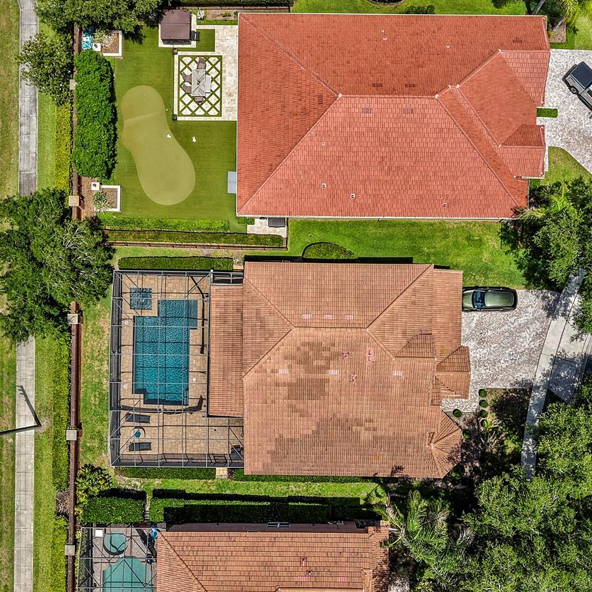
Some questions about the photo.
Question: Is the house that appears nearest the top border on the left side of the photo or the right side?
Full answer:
It is on the right.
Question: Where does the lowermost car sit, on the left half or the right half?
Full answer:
The lowermost car sits on the right side.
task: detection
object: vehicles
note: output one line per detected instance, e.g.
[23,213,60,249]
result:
[462,284,520,314]
[567,62,592,107]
